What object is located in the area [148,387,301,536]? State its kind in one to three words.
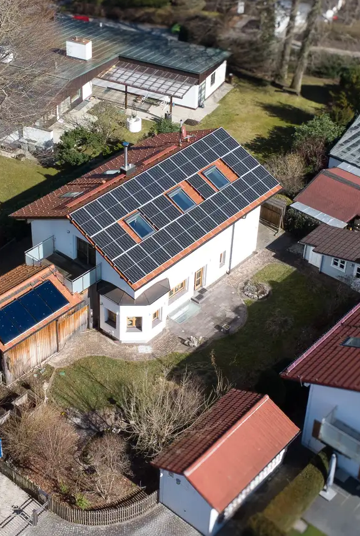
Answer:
building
